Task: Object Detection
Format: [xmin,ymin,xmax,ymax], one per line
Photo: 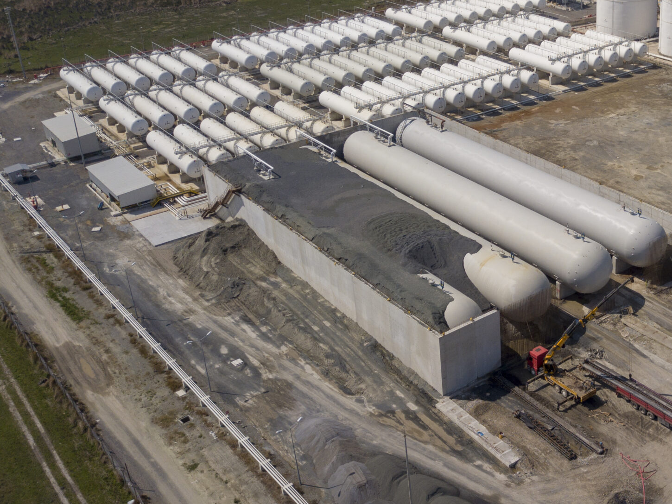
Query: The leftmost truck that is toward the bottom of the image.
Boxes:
[520,287,622,417]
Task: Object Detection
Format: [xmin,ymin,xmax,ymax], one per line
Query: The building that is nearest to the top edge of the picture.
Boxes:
[43,111,109,159]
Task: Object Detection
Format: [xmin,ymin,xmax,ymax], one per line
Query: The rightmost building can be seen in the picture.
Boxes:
[86,148,165,207]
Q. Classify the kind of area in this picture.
industrial area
